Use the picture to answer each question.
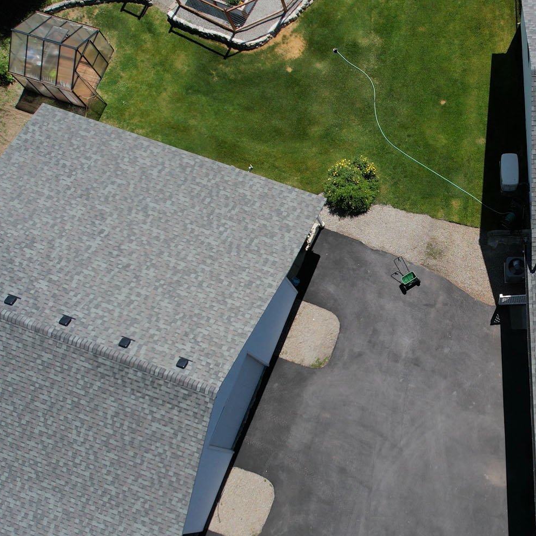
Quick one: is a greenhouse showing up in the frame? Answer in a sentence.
Yes, there is a greenhouse in the image.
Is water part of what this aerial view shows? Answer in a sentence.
No, there is no water in the image.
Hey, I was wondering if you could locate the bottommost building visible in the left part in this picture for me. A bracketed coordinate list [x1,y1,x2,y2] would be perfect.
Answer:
[0,101,330,536]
